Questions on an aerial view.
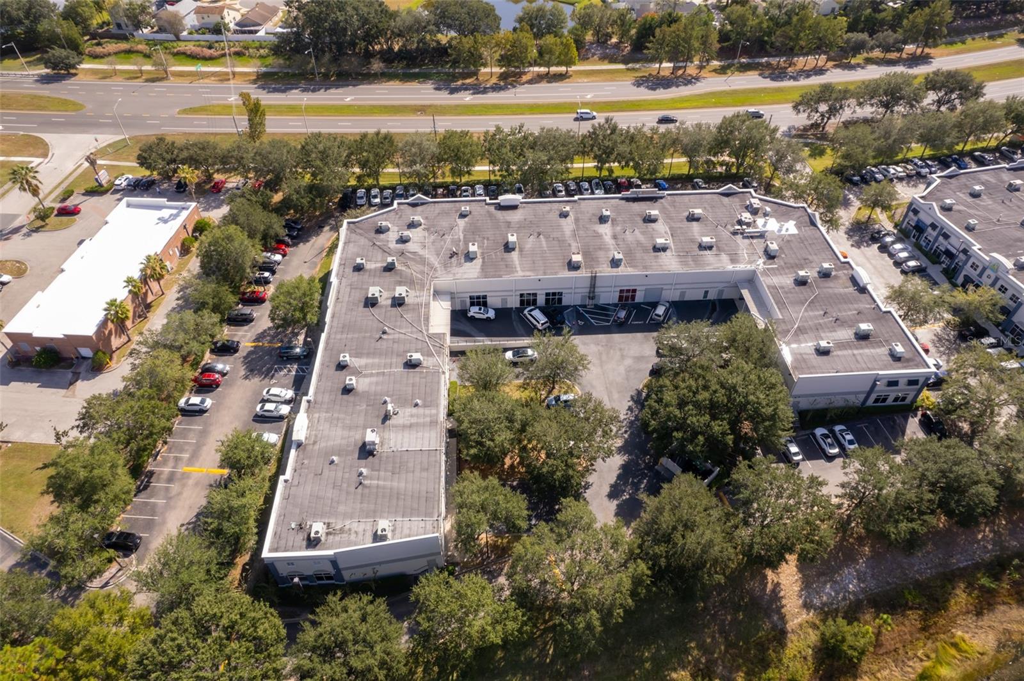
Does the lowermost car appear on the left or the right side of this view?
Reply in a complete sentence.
You can find the lowermost car on the left side of the picture.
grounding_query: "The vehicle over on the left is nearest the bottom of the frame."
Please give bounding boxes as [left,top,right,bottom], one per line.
[101,531,144,553]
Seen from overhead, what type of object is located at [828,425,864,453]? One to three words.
car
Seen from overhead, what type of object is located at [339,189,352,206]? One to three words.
vehicle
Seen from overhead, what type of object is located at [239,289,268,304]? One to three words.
car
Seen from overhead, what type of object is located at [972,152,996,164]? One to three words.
vehicle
